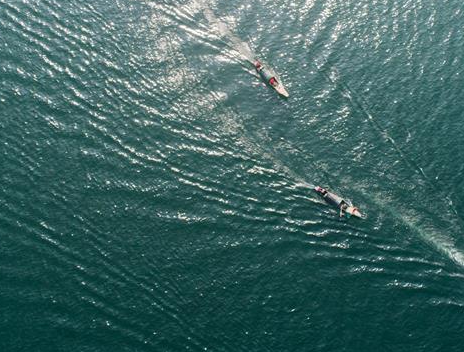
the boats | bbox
[254,60,289,97]
[313,185,367,219]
